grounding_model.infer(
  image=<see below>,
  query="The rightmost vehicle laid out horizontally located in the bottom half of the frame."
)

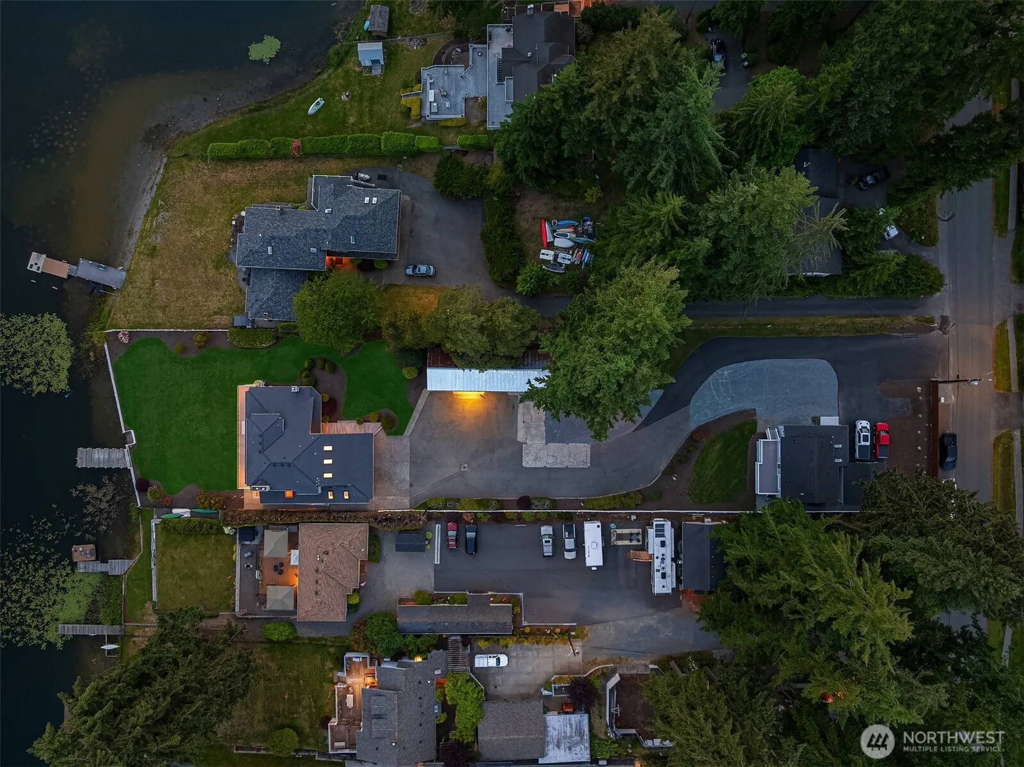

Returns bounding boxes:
[474,653,509,670]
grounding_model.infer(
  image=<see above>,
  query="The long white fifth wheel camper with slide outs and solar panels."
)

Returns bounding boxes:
[646,514,675,594]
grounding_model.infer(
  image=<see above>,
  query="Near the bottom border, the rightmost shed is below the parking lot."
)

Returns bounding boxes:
[542,710,589,762]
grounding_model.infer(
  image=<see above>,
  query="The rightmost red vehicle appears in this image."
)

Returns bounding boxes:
[873,423,892,460]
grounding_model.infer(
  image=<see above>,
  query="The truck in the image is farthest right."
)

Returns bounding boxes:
[939,433,960,471]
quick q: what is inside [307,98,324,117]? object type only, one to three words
boat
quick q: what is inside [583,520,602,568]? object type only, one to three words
trailer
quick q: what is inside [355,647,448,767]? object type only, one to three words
house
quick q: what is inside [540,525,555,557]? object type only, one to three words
car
